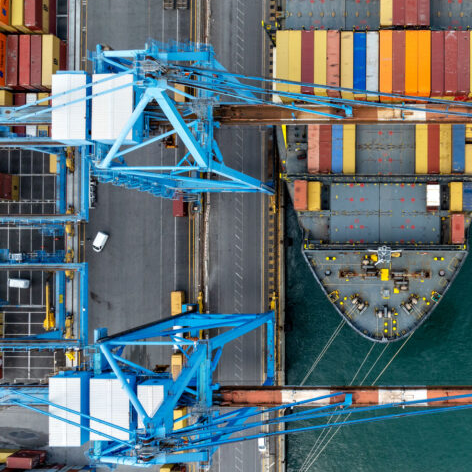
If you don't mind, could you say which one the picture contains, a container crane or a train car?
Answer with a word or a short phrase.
container crane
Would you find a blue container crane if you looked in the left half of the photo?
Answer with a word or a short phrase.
Yes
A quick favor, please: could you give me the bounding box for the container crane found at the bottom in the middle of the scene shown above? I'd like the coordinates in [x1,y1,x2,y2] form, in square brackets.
[0,286,472,472]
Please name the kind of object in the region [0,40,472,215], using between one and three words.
container crane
